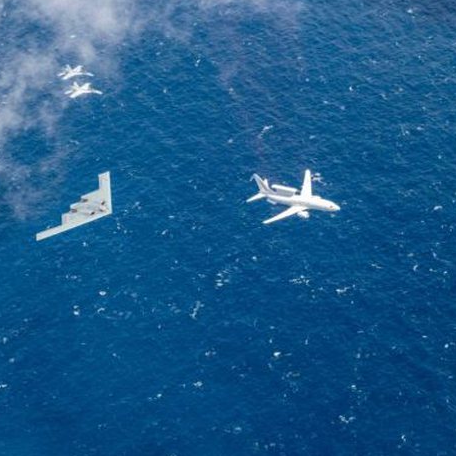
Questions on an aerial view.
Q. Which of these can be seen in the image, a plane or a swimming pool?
plane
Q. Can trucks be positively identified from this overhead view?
No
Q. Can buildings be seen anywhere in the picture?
No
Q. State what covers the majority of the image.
water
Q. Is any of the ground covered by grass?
No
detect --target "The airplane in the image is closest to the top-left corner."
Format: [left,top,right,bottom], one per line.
[60,64,95,80]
